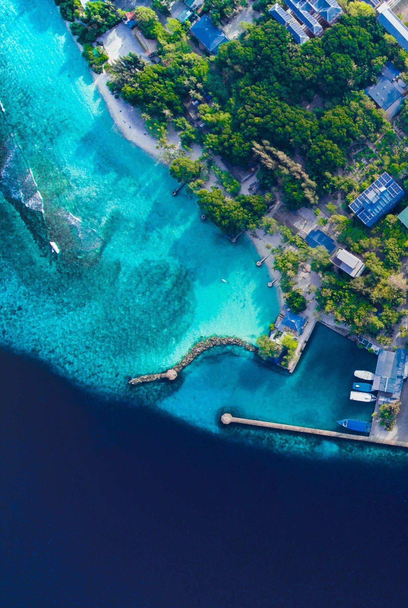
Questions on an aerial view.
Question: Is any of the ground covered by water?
Yes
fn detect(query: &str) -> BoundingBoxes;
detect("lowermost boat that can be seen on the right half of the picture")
[336,419,371,432]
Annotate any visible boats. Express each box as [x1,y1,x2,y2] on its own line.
[349,393,377,403]
[353,370,375,380]
[352,383,372,392]
[336,419,371,432]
